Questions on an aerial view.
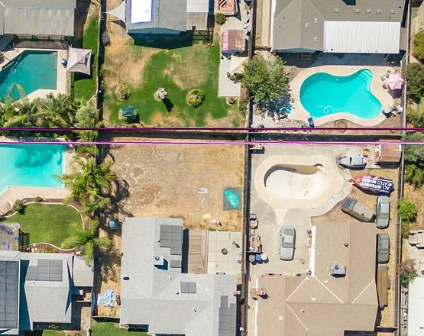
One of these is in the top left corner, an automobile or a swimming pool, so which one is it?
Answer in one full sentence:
The one visible in the top left corner is a swimming pool.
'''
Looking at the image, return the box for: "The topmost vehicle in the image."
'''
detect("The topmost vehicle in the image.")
[336,151,366,168]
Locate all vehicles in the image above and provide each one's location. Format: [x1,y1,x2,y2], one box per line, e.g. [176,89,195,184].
[377,234,392,264]
[279,225,296,261]
[336,151,366,168]
[374,196,392,230]
[338,196,377,222]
